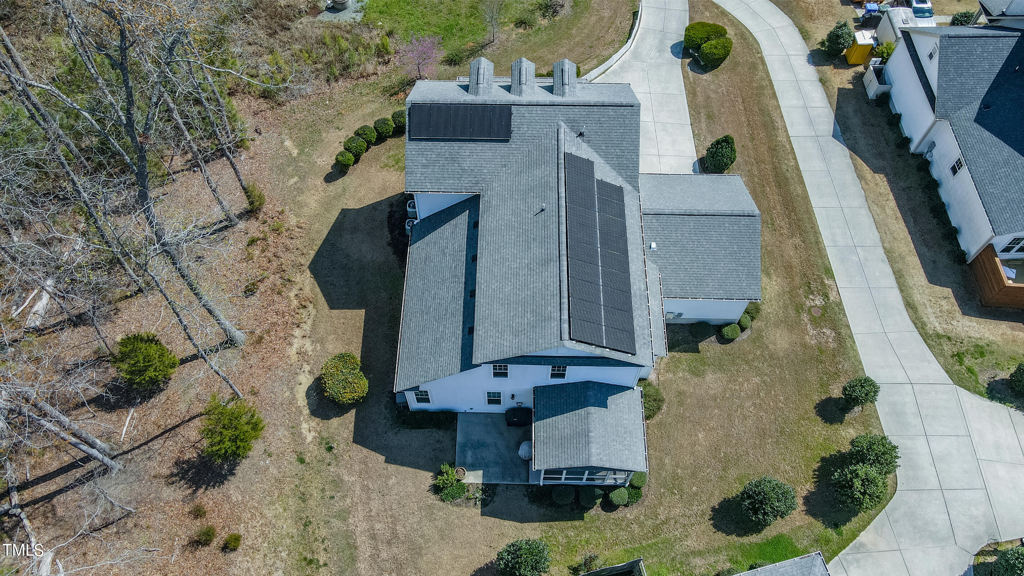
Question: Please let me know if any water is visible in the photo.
No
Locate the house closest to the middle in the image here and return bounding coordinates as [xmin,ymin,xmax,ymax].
[392,57,762,487]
